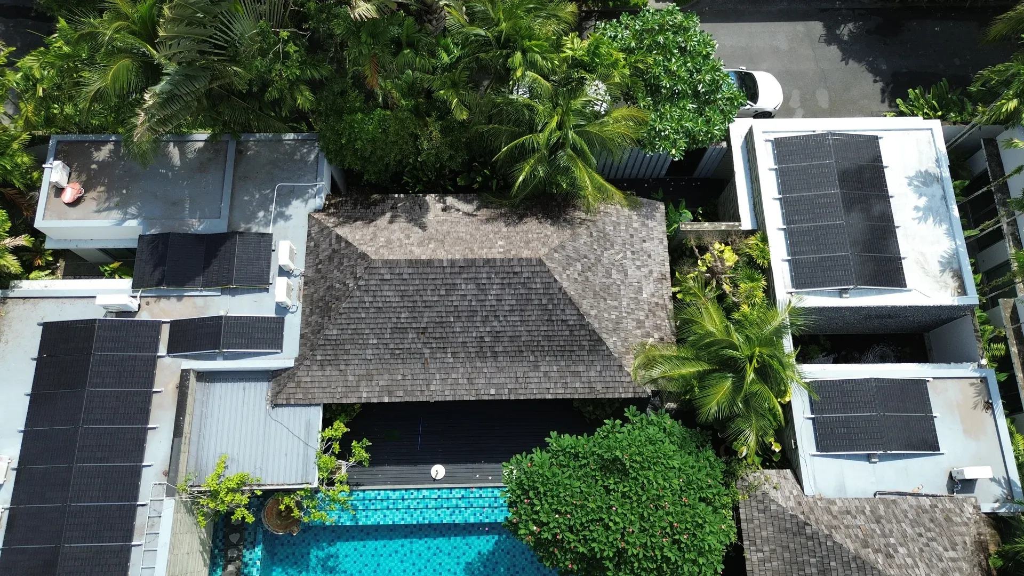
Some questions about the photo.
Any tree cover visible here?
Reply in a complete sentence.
Yes, there's tree cover in this view.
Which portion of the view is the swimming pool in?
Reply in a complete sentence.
You can find the swimming pool in the bottom area of the picture.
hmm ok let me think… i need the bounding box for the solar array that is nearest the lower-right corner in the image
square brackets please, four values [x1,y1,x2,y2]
[801,376,951,460]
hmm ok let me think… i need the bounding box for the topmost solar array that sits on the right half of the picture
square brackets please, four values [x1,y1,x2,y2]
[760,130,915,294]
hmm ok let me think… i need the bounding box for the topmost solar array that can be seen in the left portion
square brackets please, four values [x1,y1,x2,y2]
[127,233,281,290]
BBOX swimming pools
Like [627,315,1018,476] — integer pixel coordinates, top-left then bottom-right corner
[219,481,637,576]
